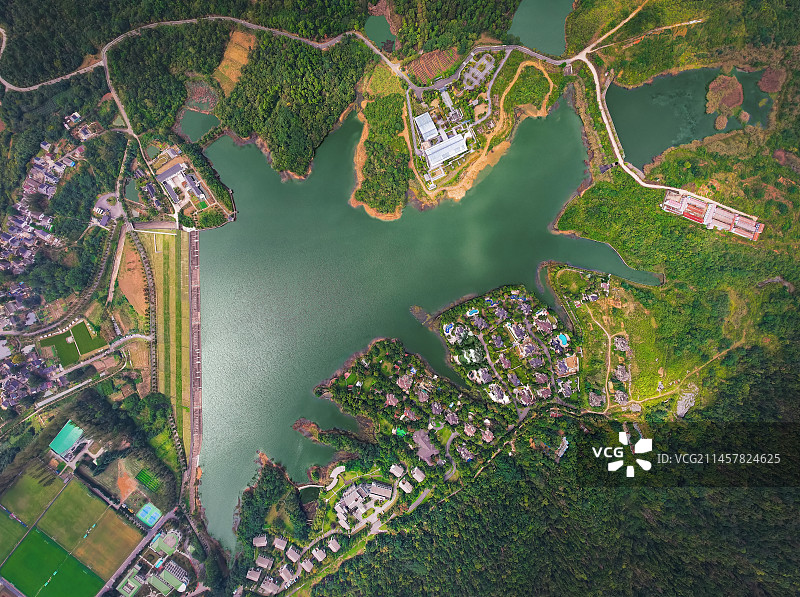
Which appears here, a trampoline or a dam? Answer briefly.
dam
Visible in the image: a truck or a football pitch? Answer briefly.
football pitch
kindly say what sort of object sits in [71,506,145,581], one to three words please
soccer field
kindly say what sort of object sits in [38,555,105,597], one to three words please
soccer field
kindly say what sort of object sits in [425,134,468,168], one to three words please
building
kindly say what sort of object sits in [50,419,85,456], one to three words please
building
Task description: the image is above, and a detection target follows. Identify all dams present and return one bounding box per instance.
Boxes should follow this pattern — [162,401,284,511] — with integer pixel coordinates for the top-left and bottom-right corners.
[136,230,202,512]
